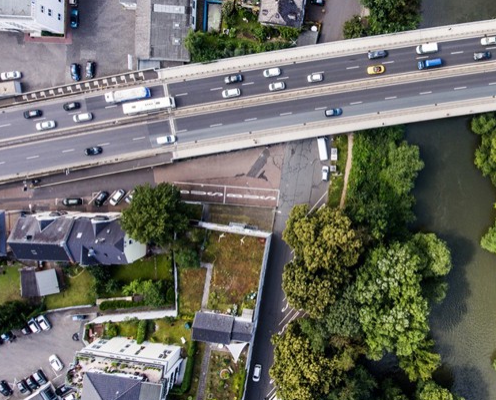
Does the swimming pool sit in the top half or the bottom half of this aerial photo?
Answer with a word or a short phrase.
top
